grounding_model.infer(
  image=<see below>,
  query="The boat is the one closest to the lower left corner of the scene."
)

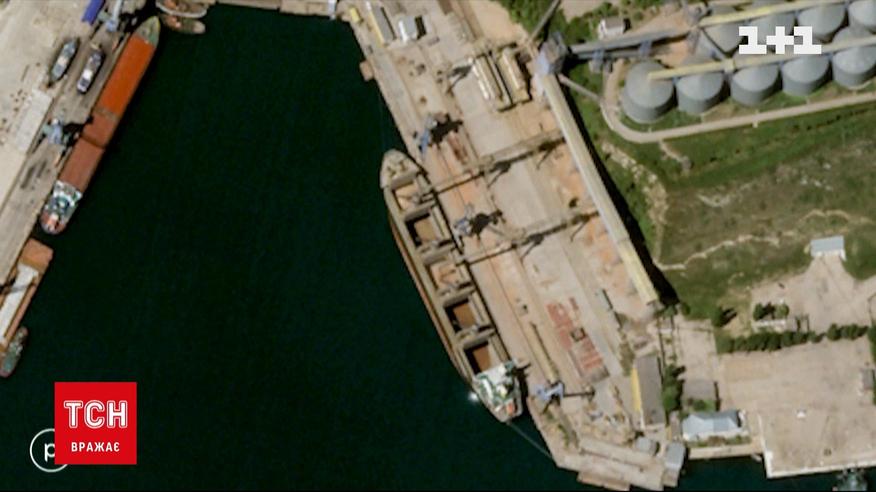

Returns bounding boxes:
[0,328,28,380]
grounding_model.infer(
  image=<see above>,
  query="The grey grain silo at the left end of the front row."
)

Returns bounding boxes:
[622,64,674,123]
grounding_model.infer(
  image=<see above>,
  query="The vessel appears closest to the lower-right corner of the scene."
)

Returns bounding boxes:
[834,466,865,492]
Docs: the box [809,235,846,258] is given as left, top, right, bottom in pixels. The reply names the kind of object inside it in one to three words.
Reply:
hangar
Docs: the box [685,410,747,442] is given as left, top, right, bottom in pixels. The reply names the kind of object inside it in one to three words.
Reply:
house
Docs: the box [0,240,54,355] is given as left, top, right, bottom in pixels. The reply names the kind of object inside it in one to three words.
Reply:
ship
